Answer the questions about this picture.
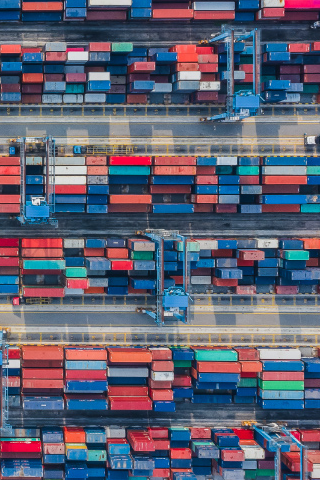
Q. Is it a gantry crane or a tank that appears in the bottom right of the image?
gantry crane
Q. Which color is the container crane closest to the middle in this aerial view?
blue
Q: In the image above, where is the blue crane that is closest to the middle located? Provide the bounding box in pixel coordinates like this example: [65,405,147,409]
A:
[131,228,191,325]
